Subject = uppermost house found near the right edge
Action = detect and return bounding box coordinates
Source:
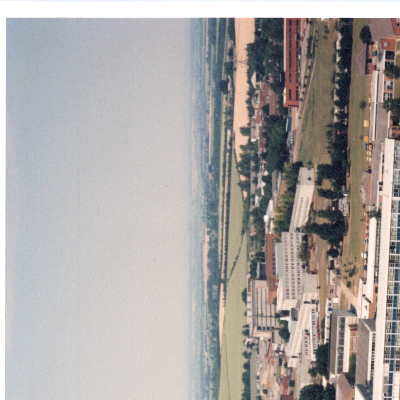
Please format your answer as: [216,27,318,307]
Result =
[372,9,400,40]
